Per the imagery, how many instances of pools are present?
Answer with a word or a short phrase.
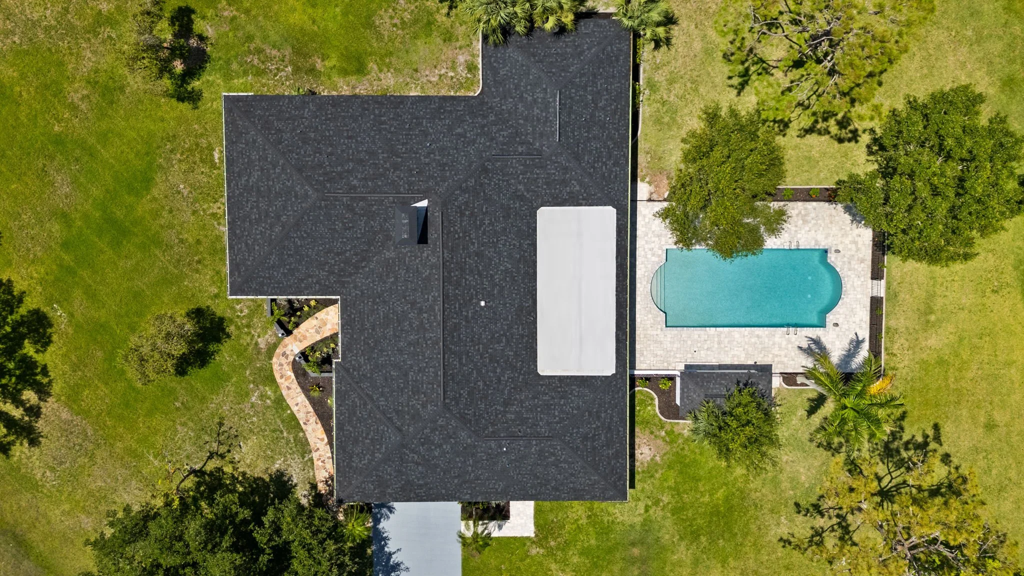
1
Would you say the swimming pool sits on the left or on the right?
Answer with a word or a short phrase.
right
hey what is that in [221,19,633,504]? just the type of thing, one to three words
house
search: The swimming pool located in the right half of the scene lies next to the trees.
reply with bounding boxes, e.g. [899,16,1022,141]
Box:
[644,242,850,335]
